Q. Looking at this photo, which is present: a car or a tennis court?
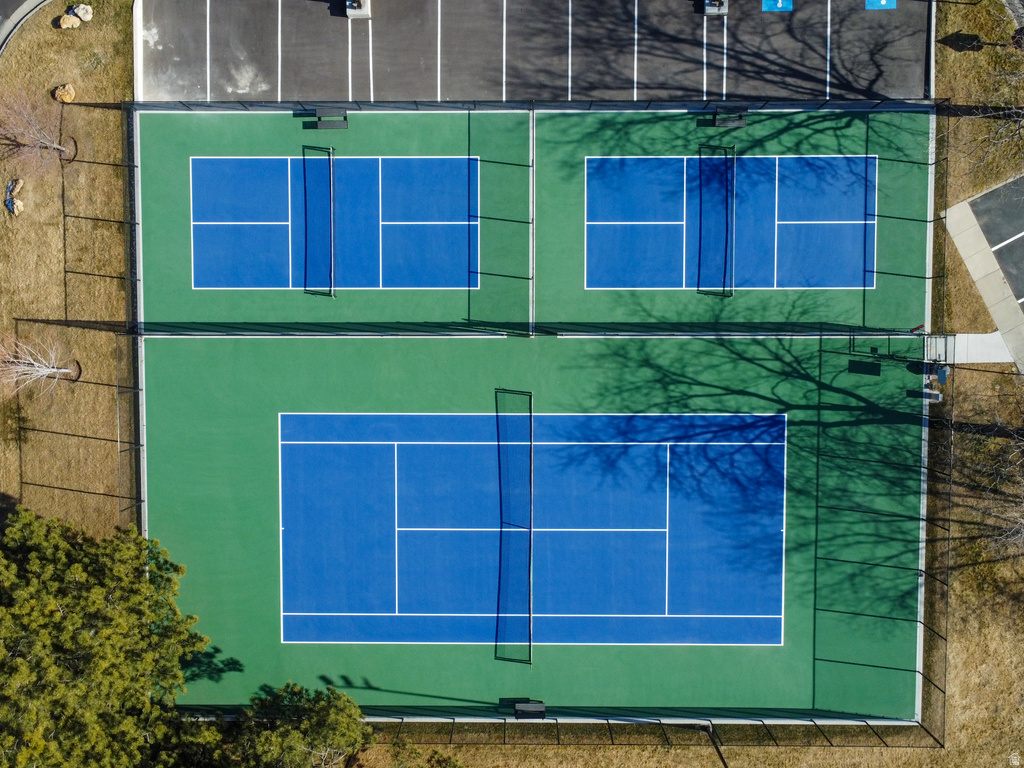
tennis court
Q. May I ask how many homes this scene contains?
0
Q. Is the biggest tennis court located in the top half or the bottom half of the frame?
bottom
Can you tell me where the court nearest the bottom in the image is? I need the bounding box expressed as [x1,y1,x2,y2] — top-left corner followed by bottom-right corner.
[144,336,924,717]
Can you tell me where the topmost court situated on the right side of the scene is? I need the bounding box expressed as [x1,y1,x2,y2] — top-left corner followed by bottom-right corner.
[535,112,929,335]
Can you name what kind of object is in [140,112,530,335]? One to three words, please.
sports court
